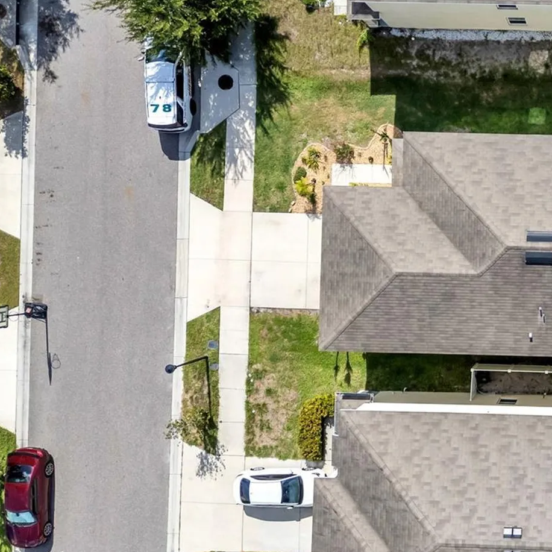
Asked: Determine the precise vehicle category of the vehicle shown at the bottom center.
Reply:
automobile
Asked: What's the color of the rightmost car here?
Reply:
white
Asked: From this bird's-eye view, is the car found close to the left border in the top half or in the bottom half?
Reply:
bottom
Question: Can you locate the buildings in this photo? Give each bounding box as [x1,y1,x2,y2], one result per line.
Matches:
[318,130,552,356]
[347,0,552,40]
[311,381,552,552]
